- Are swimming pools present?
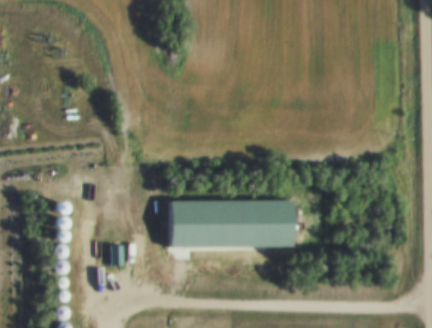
No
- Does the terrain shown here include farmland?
Yes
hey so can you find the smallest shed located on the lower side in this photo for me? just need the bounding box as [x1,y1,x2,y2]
[108,242,124,267]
